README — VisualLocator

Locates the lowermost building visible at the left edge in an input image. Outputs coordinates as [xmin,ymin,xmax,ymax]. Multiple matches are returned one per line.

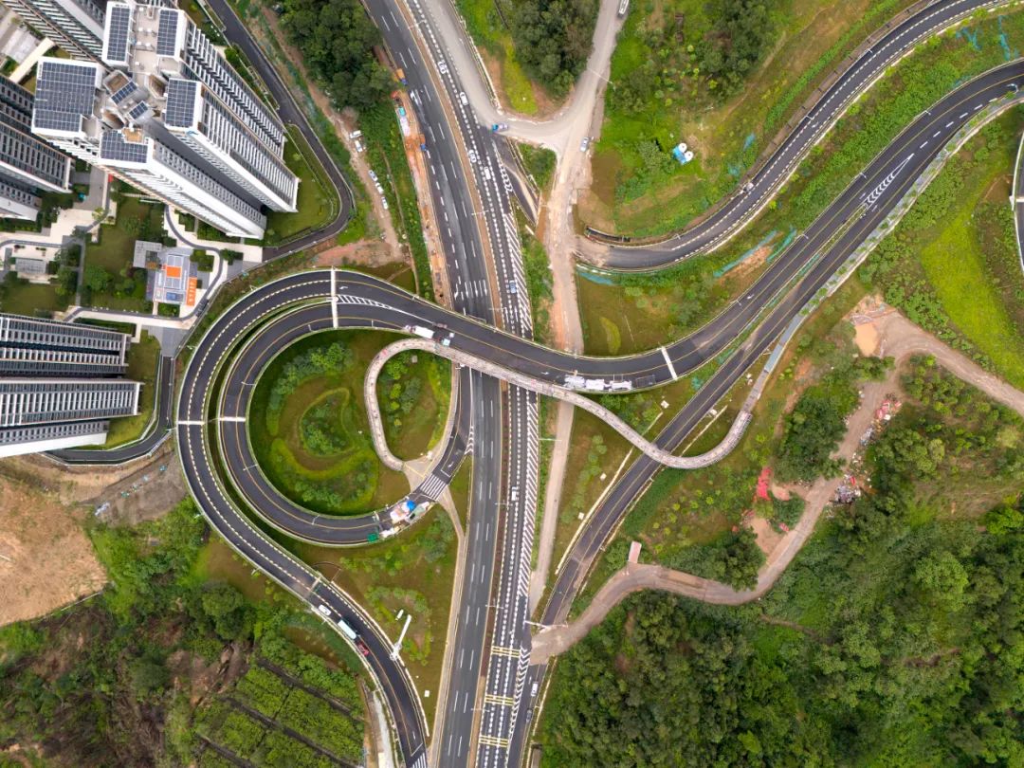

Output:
[0,381,141,460]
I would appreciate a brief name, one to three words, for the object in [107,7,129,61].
solar panel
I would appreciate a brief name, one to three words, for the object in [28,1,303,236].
building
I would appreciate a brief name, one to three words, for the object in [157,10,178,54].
solar panel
